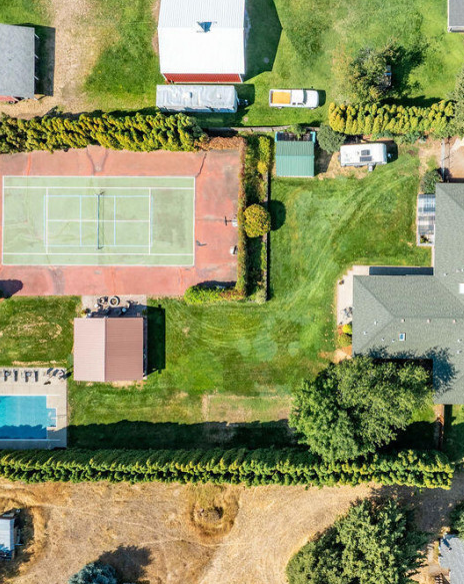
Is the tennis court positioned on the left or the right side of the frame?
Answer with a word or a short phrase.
left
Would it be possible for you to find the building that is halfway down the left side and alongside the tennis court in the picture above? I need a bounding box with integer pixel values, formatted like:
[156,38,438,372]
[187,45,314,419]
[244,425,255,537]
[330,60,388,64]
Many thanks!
[74,318,147,382]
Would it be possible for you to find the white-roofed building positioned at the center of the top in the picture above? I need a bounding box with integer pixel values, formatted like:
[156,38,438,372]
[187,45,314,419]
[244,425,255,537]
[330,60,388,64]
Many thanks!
[156,0,245,81]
